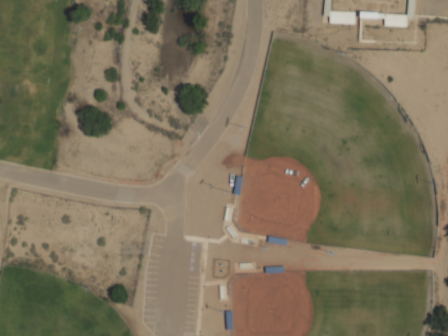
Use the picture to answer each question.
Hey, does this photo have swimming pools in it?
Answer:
No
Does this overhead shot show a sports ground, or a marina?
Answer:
sports ground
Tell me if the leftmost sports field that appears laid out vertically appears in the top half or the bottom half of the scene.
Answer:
top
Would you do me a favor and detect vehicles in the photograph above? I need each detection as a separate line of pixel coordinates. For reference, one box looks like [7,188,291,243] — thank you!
[284,170,300,176]
[299,174,312,188]
[230,173,235,188]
